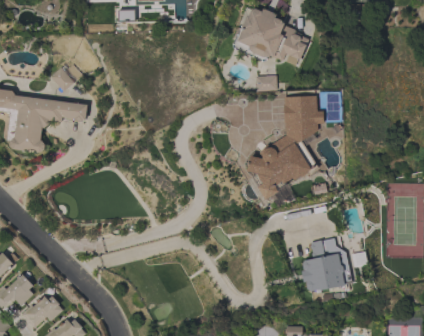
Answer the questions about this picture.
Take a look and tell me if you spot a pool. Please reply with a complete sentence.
Yes, I can see a pool in this picture.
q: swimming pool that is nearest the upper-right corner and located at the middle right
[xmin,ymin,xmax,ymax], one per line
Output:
[316,138,341,167]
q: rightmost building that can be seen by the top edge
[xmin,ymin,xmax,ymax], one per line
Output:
[236,8,312,64]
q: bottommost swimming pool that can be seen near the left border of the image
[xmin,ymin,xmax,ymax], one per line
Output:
[8,52,39,66]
